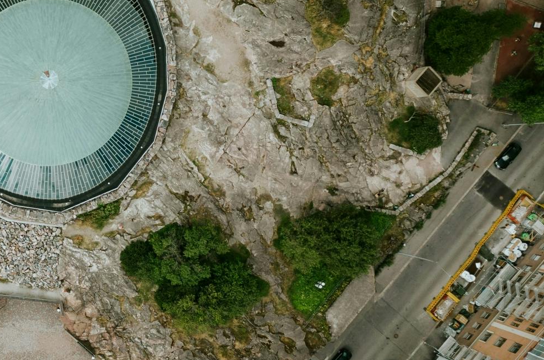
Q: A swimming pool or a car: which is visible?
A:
car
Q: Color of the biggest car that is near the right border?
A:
black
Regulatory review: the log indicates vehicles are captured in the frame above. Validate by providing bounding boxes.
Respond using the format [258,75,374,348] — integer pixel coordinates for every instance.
[496,143,522,170]
[335,349,353,360]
